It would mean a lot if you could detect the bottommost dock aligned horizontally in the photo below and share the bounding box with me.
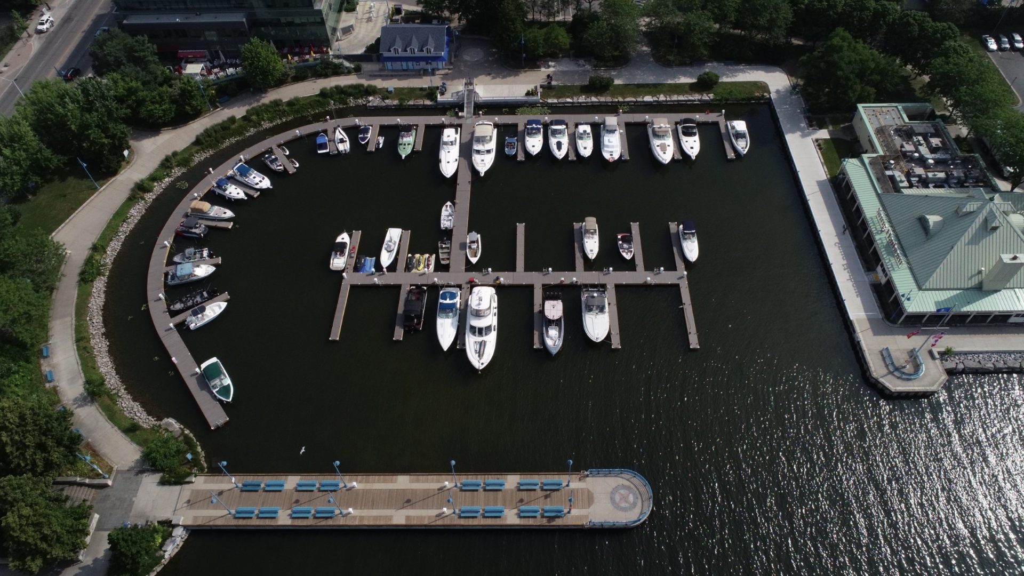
[183,469,650,530]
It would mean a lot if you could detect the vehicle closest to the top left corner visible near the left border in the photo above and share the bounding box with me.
[36,7,53,29]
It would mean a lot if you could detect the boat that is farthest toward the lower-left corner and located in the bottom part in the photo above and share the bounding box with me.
[199,355,232,401]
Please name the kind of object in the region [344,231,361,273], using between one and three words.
pier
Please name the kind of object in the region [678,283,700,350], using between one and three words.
pier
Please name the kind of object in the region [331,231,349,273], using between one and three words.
boat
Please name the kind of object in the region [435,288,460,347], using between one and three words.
boat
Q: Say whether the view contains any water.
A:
Yes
